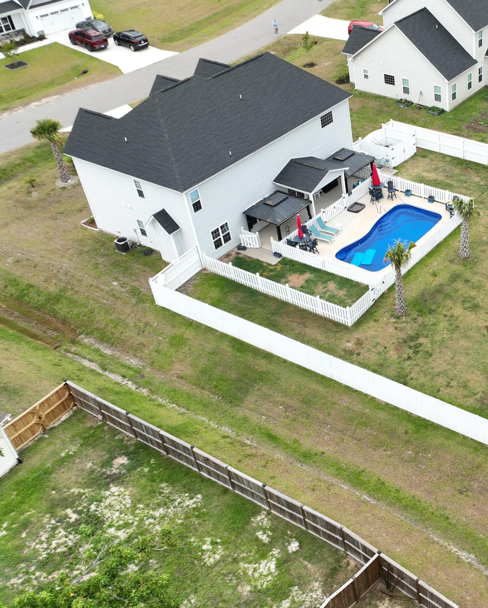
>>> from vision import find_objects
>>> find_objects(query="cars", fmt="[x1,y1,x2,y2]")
[112,28,149,50]
[345,18,382,33]
[74,14,107,31]
[68,27,106,50]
